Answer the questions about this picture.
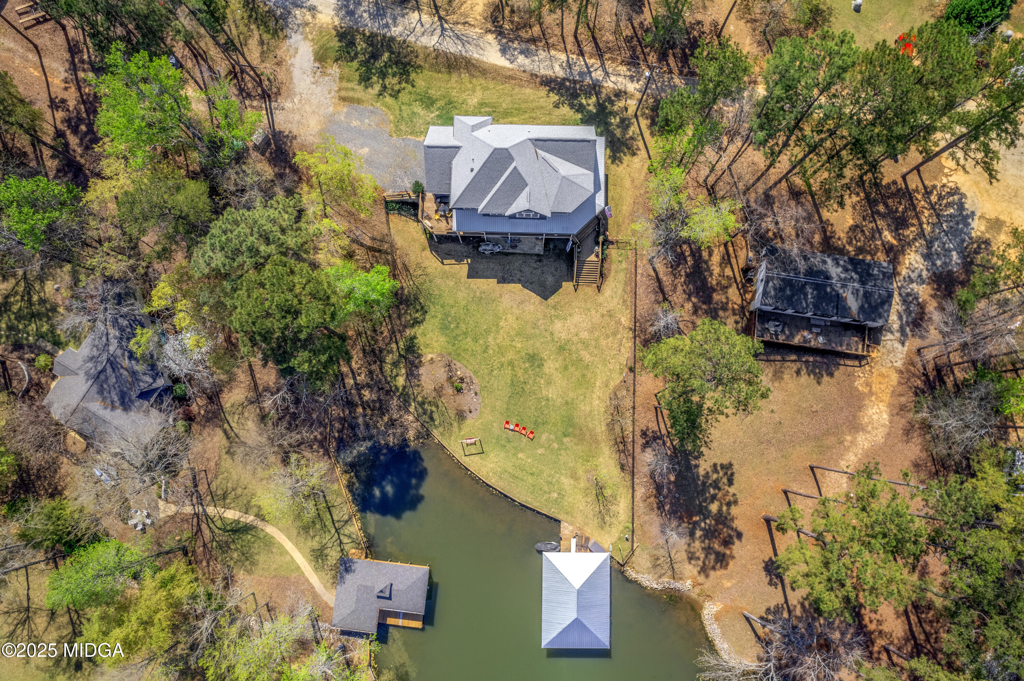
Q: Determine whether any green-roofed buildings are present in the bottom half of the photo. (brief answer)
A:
No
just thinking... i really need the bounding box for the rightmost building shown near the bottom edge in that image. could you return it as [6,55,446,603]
[541,521,610,650]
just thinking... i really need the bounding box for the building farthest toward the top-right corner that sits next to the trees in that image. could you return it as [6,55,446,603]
[739,246,895,361]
